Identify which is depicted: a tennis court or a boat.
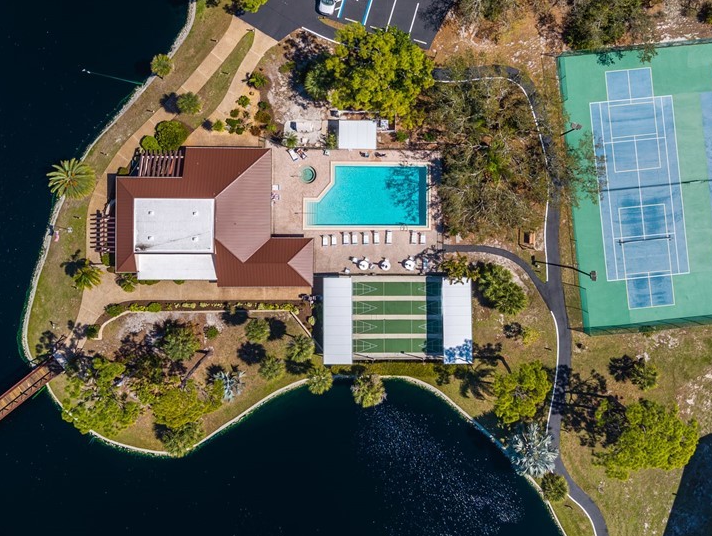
tennis court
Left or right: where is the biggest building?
left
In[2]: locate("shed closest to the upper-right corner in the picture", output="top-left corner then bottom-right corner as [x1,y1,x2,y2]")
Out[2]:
[338,120,377,149]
